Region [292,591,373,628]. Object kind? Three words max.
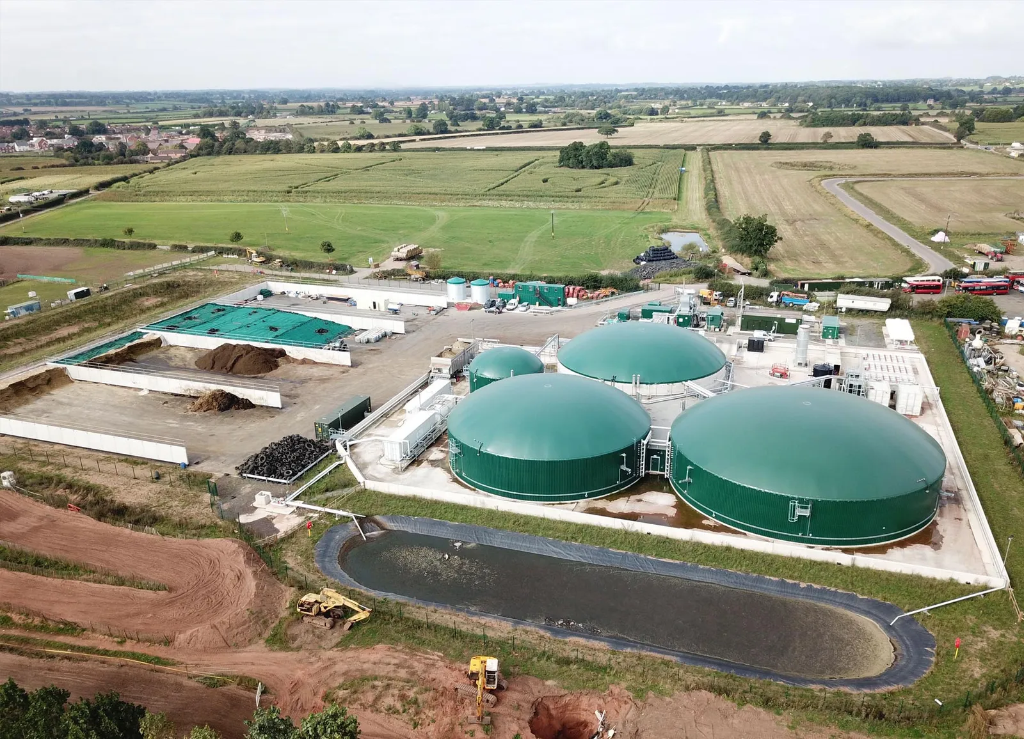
work vehicle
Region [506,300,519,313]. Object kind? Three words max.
vehicle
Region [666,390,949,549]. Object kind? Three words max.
storage tank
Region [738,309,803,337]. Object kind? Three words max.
building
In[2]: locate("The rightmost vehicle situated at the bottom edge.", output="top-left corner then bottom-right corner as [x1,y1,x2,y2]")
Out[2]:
[460,660,509,724]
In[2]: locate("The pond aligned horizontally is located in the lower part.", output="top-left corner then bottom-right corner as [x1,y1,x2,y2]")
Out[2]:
[309,513,942,696]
